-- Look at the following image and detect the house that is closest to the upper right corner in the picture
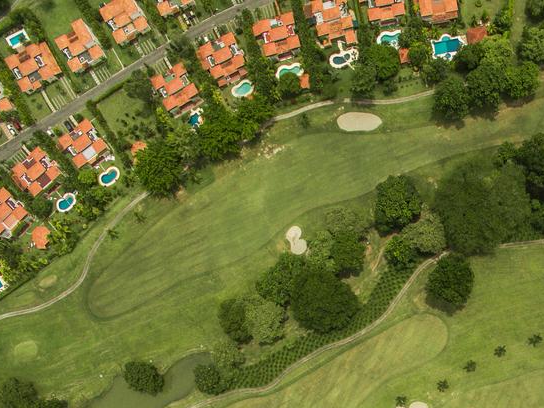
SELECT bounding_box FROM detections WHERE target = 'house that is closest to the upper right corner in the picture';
[421,0,459,28]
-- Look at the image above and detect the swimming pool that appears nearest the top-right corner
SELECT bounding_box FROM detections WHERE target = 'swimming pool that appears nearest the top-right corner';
[433,33,464,58]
